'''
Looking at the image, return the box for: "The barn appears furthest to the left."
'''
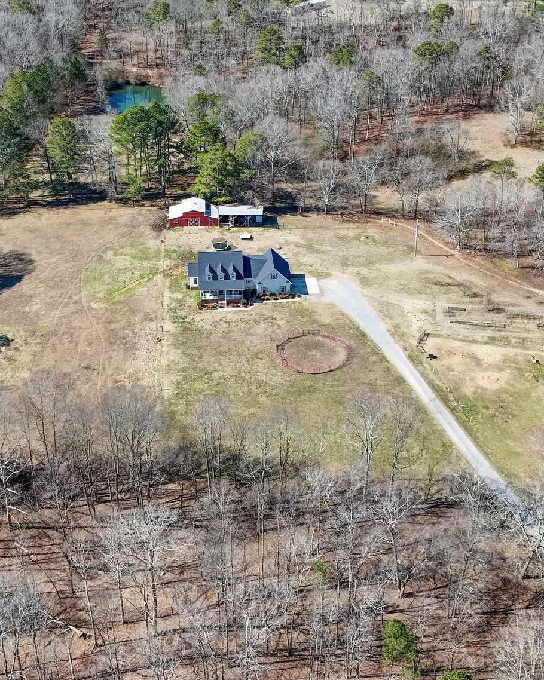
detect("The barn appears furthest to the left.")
[169,195,221,226]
